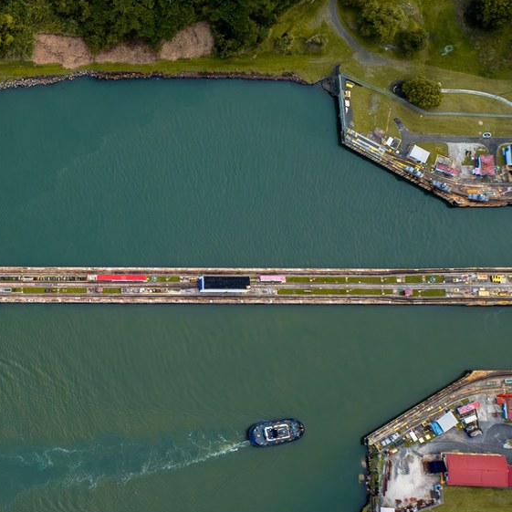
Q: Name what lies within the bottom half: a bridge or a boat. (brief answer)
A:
boat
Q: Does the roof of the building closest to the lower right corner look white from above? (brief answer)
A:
No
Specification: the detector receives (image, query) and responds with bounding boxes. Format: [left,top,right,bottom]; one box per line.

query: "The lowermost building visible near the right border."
[439,453,512,487]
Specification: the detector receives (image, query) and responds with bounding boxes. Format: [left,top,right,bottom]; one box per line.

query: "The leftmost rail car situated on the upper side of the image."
[404,165,425,178]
